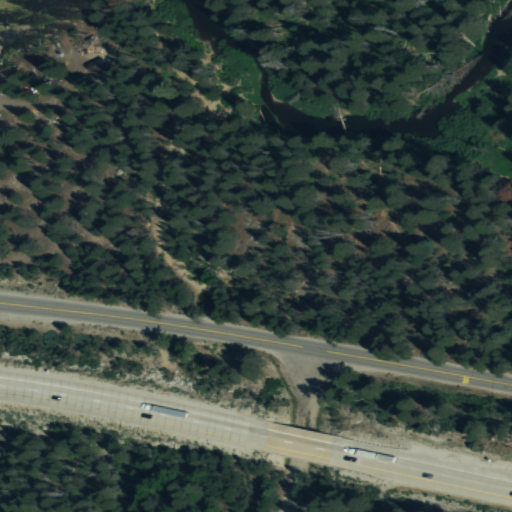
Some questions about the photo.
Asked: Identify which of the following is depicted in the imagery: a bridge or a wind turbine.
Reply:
bridge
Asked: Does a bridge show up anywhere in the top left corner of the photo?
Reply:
No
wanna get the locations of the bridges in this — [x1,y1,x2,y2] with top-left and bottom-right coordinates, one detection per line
[264,422,334,466]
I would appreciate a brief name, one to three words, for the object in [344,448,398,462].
vehicle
